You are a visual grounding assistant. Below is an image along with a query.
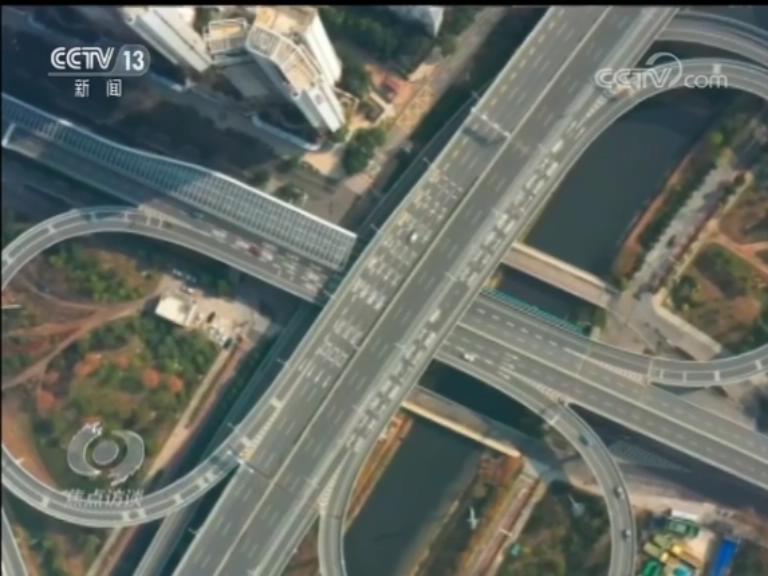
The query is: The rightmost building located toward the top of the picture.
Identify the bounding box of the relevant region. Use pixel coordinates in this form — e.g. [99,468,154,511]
[398,0,446,35]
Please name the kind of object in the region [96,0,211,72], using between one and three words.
building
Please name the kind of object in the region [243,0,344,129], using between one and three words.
building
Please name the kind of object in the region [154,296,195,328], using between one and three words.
shed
